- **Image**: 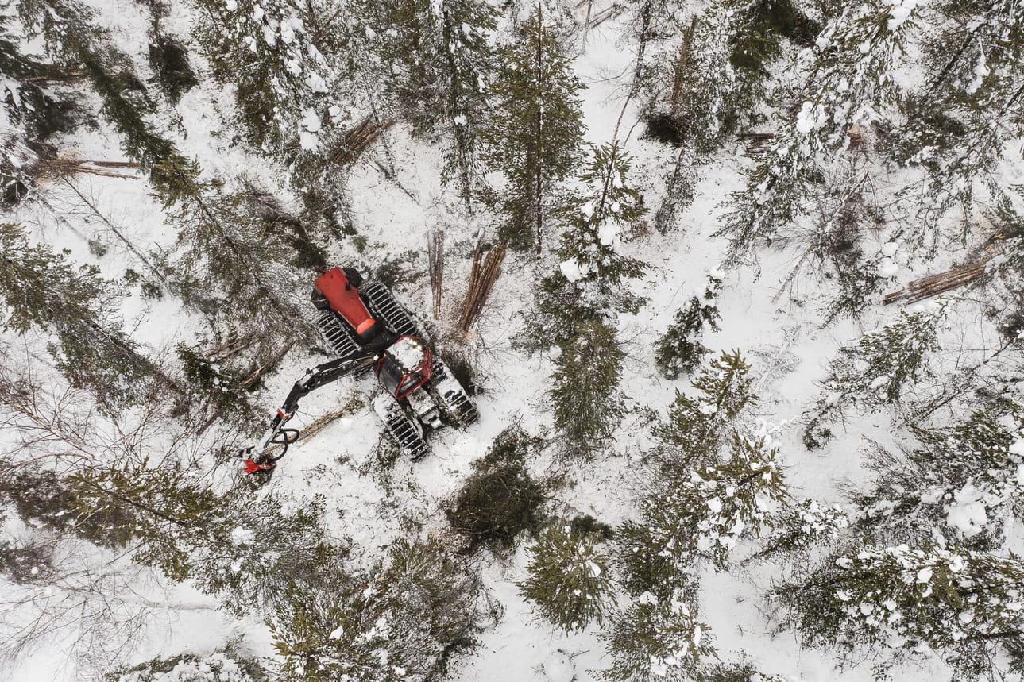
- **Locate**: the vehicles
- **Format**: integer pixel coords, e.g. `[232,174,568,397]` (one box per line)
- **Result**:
[240,263,488,480]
